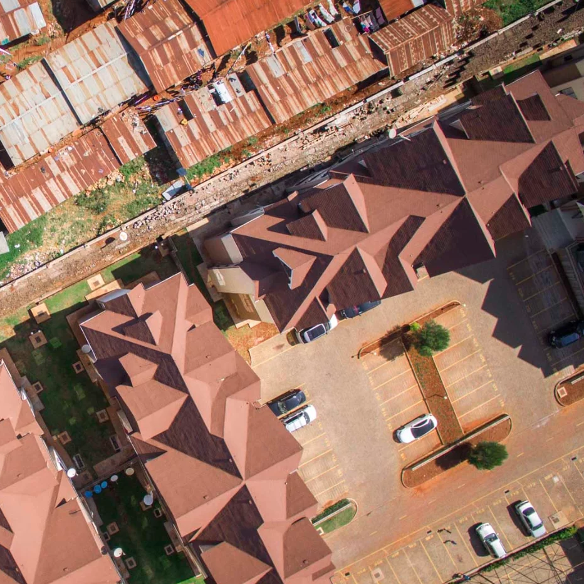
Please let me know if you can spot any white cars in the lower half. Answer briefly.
Yes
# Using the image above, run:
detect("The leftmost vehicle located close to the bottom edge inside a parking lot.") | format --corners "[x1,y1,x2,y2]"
[474,518,509,561]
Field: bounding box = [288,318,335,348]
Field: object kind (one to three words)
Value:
car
